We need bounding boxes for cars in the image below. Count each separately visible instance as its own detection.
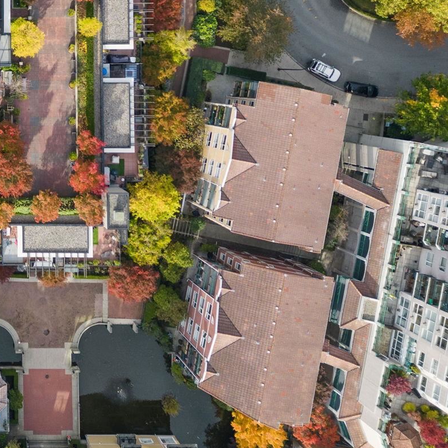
[308,59,342,82]
[345,82,379,98]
